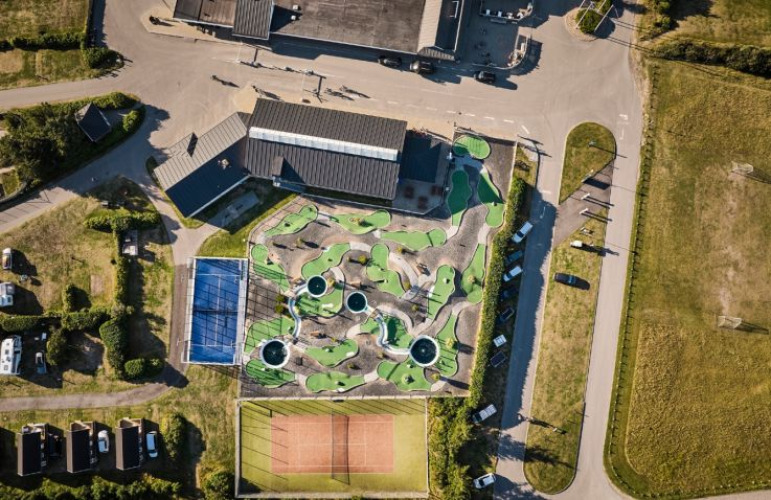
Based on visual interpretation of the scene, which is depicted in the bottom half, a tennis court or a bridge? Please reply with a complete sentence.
The feature located in the bottom half is a tennis court.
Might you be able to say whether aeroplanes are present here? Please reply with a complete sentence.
No, no aeroplane is visible in the view.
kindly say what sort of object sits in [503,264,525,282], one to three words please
car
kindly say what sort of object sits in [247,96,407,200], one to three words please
building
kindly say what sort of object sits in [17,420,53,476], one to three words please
building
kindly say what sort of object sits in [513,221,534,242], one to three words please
car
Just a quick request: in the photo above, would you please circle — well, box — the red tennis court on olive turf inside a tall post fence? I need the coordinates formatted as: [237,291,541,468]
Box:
[236,397,434,498]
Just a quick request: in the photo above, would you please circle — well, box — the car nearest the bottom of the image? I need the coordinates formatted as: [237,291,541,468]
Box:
[474,474,499,491]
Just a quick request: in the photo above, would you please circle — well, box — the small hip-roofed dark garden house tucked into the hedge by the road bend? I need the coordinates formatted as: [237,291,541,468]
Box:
[75,102,116,142]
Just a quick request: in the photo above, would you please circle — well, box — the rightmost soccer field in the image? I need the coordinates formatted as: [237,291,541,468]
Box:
[629,63,771,480]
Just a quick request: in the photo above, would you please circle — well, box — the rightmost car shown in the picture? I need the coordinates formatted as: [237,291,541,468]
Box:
[553,272,579,285]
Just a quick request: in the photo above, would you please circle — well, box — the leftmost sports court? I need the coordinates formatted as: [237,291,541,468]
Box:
[176,258,248,368]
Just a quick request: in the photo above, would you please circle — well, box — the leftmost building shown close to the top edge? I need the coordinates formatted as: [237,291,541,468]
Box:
[173,0,237,32]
